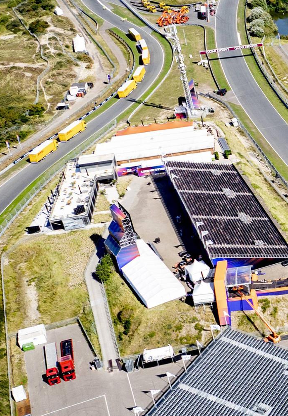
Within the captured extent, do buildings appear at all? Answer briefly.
Yes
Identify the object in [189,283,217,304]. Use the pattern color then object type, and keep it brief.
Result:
white tent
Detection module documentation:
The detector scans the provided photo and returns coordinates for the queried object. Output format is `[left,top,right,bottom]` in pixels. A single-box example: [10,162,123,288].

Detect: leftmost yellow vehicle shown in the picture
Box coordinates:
[28,136,69,162]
